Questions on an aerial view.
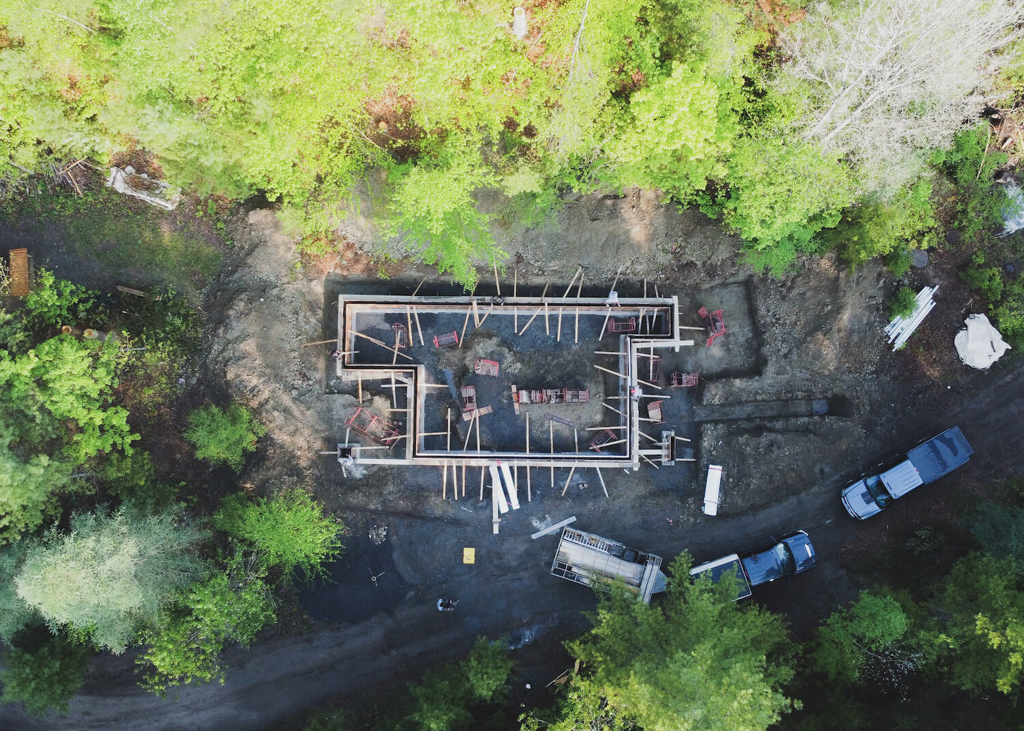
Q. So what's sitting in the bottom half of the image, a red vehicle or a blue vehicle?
blue vehicle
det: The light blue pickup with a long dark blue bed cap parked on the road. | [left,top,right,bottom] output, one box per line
[850,434,972,517]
